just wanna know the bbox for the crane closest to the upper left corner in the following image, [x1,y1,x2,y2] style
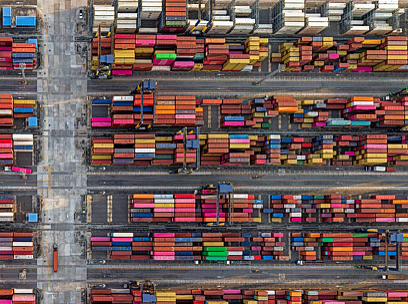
[91,23,115,77]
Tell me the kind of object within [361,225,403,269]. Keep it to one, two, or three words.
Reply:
container crane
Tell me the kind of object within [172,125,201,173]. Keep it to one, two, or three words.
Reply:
container crane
